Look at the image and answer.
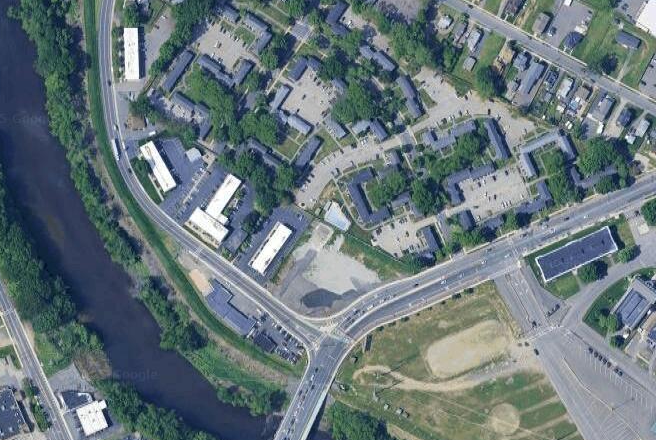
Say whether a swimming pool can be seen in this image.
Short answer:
Yes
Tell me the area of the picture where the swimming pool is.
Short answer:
center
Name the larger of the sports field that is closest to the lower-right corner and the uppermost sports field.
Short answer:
the uppermost sports field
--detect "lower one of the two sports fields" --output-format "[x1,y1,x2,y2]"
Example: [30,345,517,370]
[489,404,519,435]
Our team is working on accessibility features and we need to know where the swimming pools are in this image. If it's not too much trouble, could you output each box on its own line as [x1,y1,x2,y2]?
[323,200,350,231]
